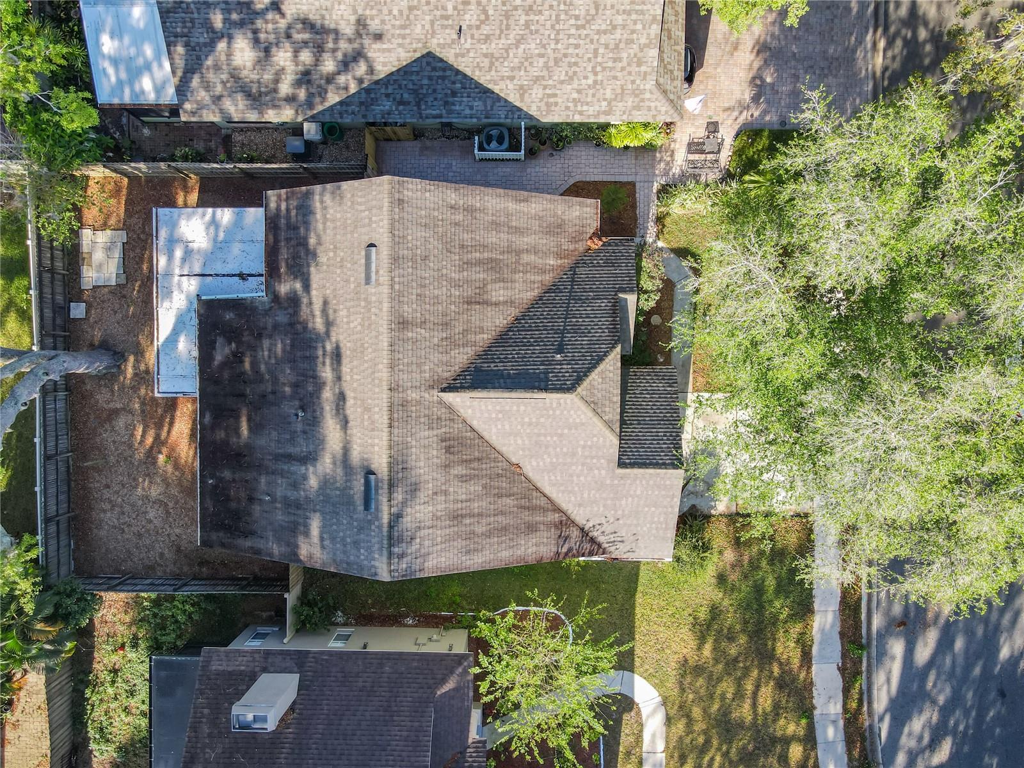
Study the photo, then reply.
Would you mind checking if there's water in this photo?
No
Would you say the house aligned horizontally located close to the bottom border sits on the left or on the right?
left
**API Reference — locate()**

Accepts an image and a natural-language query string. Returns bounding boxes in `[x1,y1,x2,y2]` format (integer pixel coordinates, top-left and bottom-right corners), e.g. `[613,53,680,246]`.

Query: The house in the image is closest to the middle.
[196,178,683,581]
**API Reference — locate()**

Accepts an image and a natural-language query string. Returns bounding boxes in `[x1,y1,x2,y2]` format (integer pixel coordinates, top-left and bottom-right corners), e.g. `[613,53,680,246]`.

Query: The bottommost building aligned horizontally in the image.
[177,626,487,768]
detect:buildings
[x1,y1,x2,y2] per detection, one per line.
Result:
[196,178,683,581]
[177,626,487,768]
[160,0,685,128]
